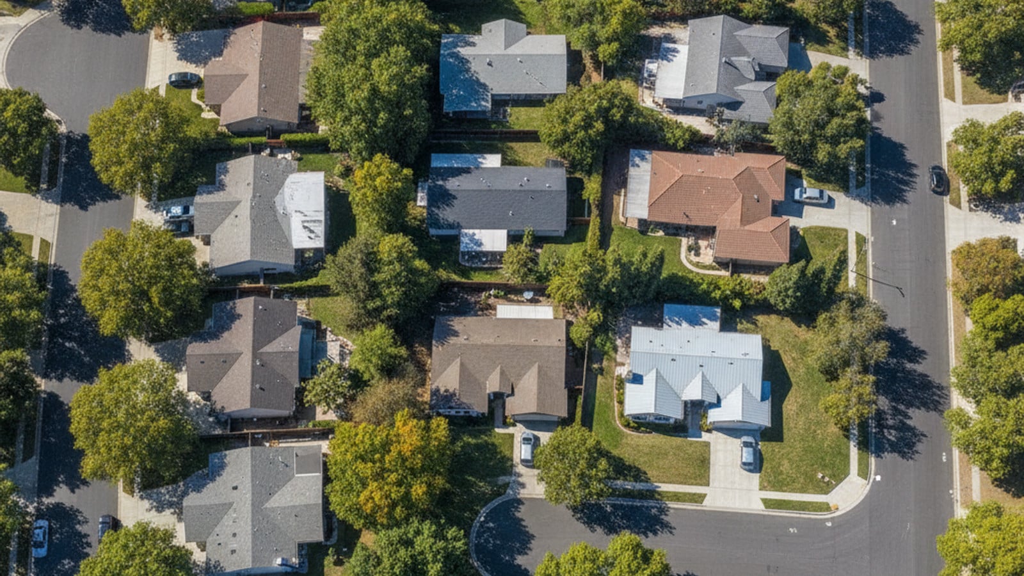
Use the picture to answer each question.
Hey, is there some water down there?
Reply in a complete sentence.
No, there is no water in the image.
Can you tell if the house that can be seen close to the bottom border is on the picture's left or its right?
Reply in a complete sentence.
You can find the house that can be seen close to the bottom border on the left side of the picture.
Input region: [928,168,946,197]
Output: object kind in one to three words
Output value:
car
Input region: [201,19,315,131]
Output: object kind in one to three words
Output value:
house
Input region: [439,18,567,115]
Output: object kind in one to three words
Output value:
house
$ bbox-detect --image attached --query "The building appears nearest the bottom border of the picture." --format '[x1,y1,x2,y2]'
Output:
[179,445,324,572]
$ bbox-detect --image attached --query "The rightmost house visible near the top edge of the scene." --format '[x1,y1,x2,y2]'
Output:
[654,15,788,126]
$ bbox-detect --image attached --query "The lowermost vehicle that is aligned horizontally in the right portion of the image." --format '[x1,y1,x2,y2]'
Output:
[794,188,828,203]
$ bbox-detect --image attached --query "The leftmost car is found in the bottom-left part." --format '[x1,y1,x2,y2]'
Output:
[31,520,50,557]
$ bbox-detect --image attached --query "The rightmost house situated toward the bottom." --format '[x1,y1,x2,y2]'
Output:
[624,304,772,427]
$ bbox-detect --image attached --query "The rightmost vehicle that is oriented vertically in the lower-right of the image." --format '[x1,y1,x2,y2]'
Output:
[739,435,756,471]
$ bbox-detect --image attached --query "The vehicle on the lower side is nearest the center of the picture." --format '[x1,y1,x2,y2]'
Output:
[518,431,535,467]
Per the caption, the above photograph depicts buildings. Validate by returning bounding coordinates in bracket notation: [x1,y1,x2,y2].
[654,15,788,126]
[439,18,567,115]
[182,296,340,423]
[201,19,315,131]
[624,304,772,427]
[417,153,567,257]
[430,304,567,421]
[624,149,790,267]
[190,155,326,273]
[179,445,324,572]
